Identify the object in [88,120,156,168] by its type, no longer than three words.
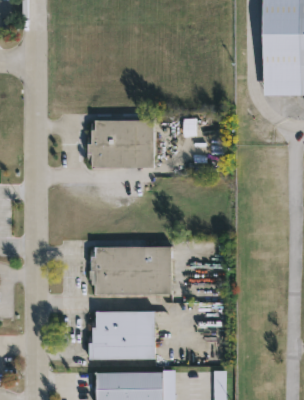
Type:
building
